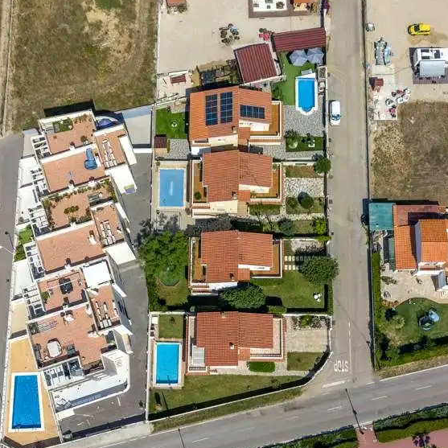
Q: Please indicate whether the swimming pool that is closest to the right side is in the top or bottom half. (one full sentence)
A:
You can find the swimming pool that is closest to the right side in the top half.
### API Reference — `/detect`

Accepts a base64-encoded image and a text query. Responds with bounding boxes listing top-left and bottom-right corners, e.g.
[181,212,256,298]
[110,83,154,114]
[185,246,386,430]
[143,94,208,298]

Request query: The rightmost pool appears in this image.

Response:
[296,77,318,116]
